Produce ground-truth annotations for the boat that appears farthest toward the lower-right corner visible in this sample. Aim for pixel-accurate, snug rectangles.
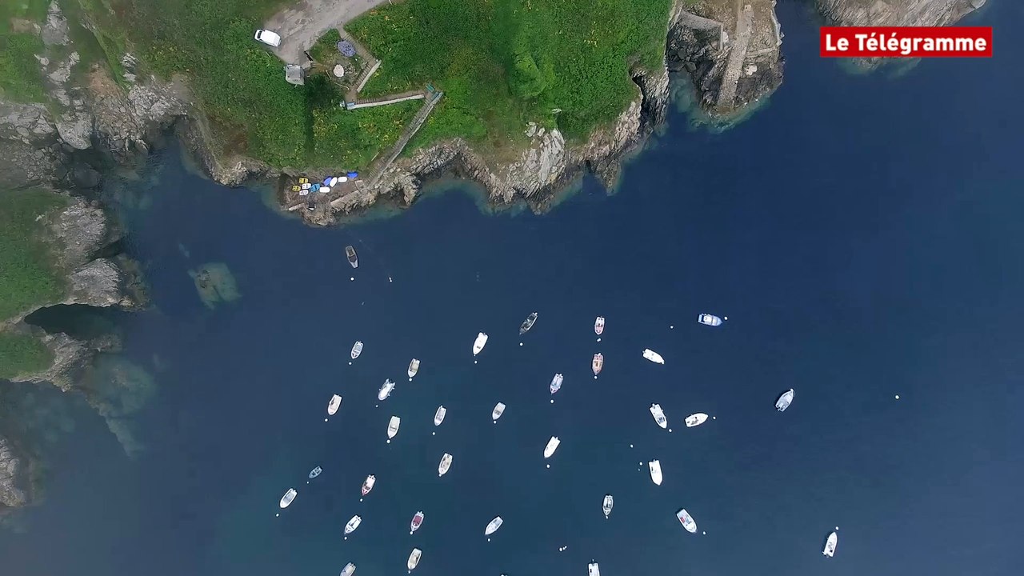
[825,530,839,558]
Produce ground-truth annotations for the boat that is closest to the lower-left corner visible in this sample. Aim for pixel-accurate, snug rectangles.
[278,489,297,513]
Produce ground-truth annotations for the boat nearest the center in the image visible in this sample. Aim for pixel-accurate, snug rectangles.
[520,313,538,336]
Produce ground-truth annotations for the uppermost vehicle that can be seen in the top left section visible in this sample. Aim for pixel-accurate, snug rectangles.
[253,28,281,46]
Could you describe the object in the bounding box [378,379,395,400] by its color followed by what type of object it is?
white boat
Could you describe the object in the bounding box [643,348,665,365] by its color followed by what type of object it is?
white boat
